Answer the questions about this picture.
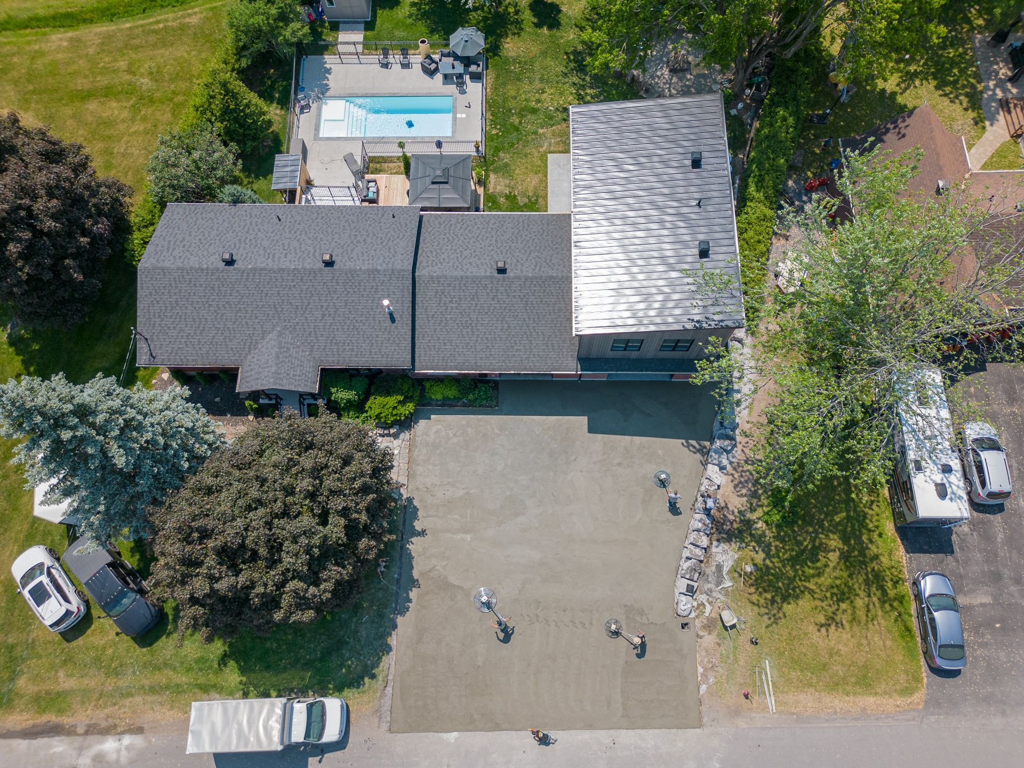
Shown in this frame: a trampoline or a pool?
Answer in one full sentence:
There is a pool in the scene.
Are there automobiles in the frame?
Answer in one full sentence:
Yes, an automobile is visible in the scene.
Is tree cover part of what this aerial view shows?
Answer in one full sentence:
Yes, there's tree cover in this view.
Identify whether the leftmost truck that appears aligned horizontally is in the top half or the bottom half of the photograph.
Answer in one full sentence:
It is in the bottom half that the leftmost truck that appears aligned horizontally appears.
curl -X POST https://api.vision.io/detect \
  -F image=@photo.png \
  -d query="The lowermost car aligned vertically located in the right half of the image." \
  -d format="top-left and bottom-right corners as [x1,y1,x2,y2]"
[909,573,968,673]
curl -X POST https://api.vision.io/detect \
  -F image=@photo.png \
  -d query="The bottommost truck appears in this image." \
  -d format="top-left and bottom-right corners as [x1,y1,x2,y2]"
[186,686,351,757]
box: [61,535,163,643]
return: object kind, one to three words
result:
vehicle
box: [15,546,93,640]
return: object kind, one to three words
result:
car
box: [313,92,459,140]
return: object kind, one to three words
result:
swimming pool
